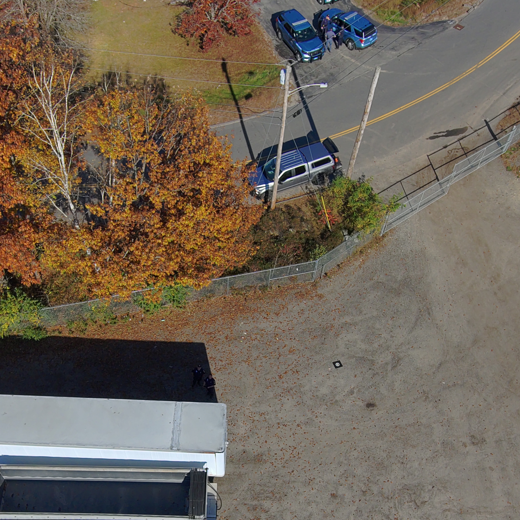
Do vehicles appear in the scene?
Yes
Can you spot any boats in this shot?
No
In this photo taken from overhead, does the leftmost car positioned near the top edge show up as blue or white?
blue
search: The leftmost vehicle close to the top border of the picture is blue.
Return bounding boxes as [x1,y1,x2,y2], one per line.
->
[274,9,326,64]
